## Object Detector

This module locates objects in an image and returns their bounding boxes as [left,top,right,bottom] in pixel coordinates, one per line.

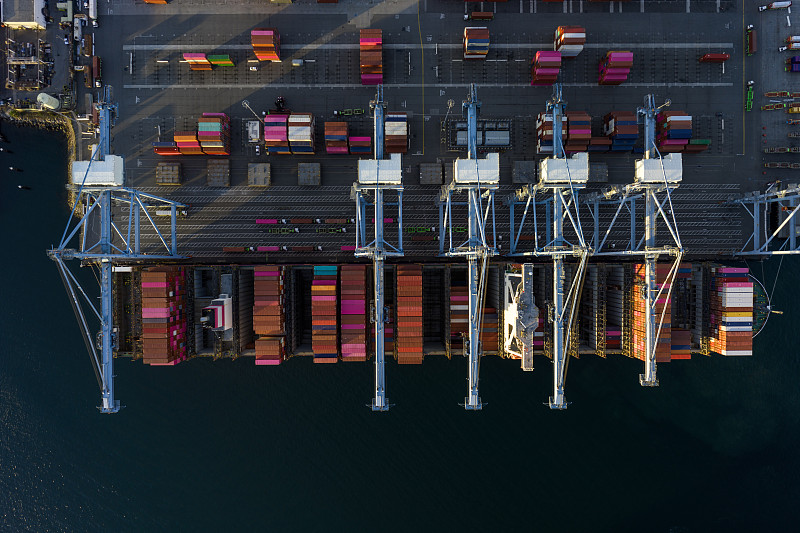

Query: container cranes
[433,81,497,412]
[345,81,409,412]
[578,81,697,388]
[54,81,189,412]
[501,81,588,412]
[734,187,800,262]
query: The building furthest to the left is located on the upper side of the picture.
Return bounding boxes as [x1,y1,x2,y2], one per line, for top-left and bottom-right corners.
[1,0,57,31]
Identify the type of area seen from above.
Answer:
port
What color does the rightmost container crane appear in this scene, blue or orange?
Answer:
blue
